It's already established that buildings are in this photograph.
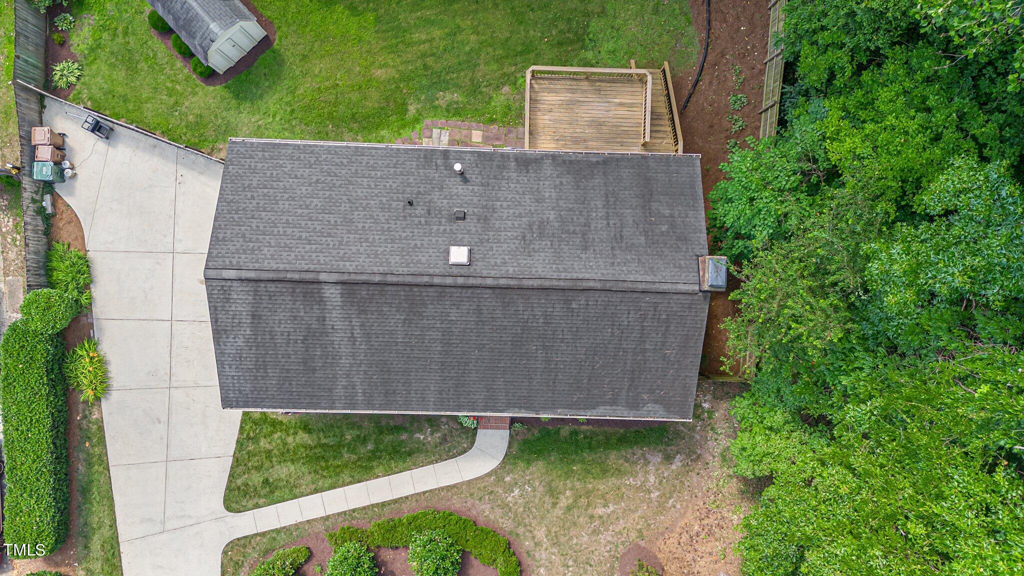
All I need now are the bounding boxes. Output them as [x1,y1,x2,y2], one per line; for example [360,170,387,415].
[147,0,268,76]
[203,139,729,422]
